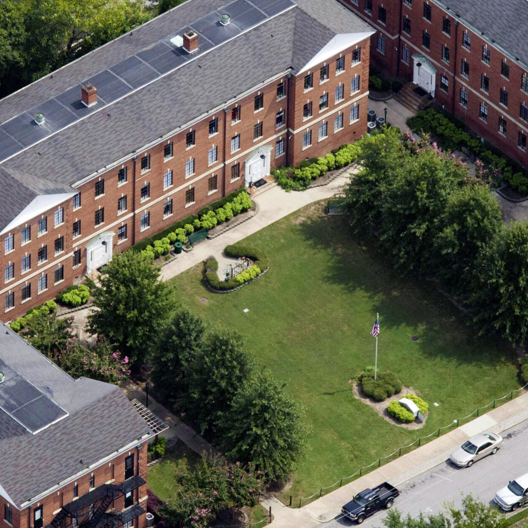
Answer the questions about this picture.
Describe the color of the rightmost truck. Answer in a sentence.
The rightmost truck looks white in the image.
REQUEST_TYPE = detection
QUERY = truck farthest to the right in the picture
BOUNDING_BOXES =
[492,476,528,513]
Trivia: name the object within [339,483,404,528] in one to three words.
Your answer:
truck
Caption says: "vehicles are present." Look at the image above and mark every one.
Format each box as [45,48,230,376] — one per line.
[492,476,528,513]
[448,432,505,471]
[339,483,404,528]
